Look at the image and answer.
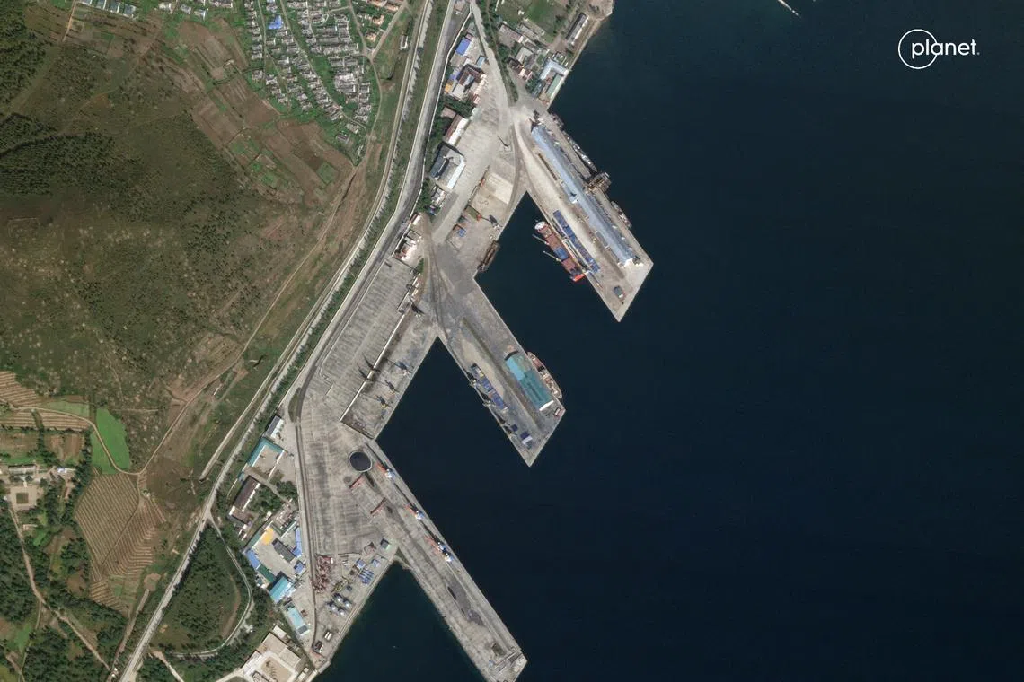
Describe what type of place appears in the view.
port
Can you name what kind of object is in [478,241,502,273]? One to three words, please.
ship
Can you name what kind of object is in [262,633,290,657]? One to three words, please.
building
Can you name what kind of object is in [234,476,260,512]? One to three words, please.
building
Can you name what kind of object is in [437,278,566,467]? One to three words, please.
pier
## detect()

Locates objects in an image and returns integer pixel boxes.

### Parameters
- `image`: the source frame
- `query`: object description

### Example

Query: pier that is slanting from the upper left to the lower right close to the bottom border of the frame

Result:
[375,440,527,682]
